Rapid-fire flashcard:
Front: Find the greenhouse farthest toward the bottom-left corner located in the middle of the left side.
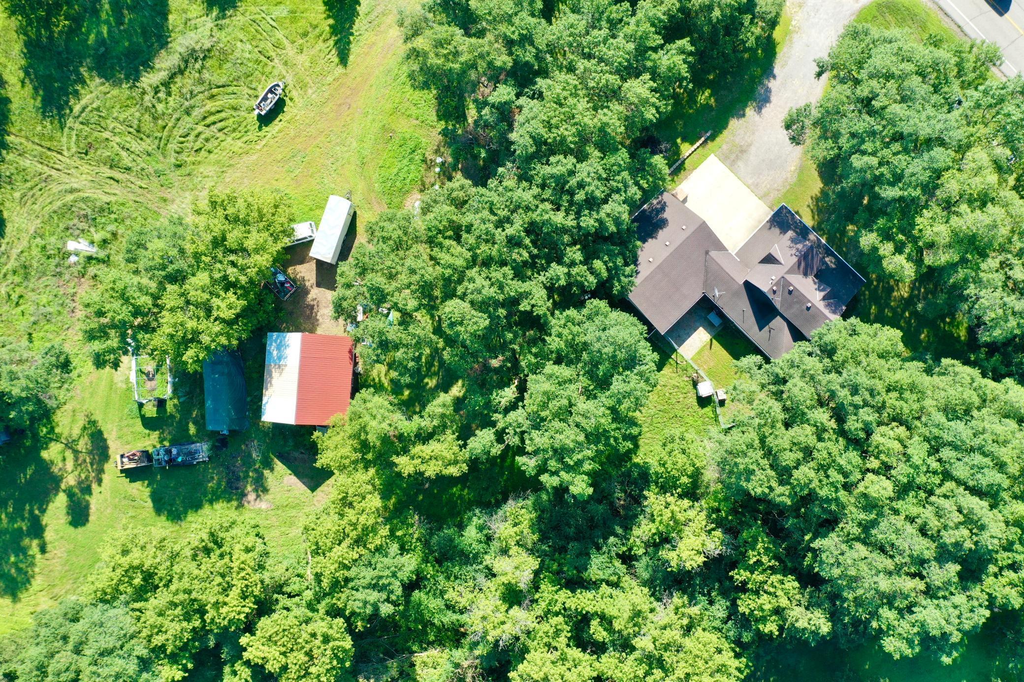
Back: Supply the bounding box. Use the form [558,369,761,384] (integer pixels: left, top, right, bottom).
[131,355,179,404]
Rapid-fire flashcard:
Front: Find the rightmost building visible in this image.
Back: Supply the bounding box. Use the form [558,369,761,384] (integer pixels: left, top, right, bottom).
[596,191,867,354]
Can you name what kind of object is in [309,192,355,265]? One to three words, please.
trailer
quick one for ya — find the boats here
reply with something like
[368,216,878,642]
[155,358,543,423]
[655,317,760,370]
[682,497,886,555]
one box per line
[252,78,284,121]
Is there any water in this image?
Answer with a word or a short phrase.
No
